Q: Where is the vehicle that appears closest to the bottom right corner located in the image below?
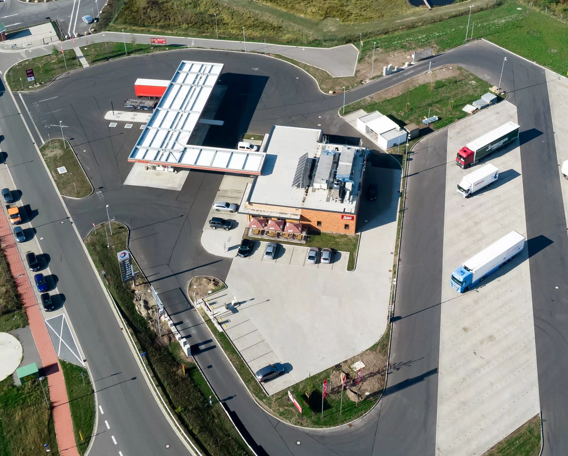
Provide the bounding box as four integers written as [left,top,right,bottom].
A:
[451,230,525,293]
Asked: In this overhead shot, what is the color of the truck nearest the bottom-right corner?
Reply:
white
